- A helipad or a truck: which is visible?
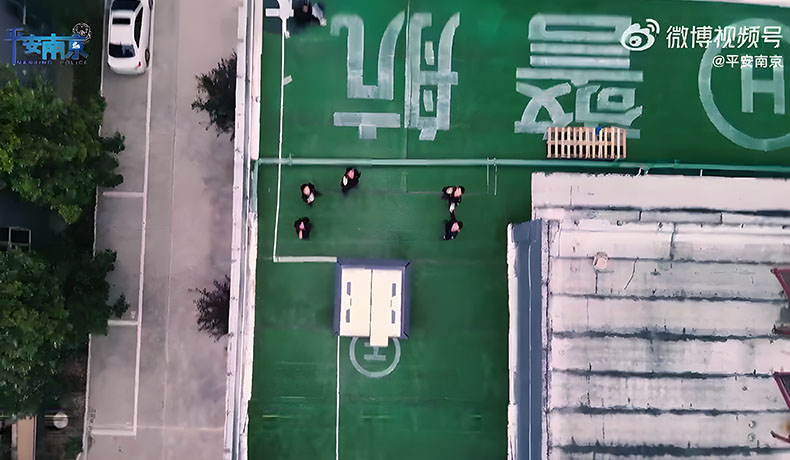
helipad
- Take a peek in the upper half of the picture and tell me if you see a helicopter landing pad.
Yes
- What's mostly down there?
buildings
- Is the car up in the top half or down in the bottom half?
top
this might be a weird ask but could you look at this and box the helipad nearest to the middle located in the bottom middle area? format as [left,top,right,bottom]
[349,337,400,377]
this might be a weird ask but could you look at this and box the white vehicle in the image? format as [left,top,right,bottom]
[102,0,153,76]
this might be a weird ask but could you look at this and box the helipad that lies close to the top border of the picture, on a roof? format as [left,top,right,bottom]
[700,19,790,149]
